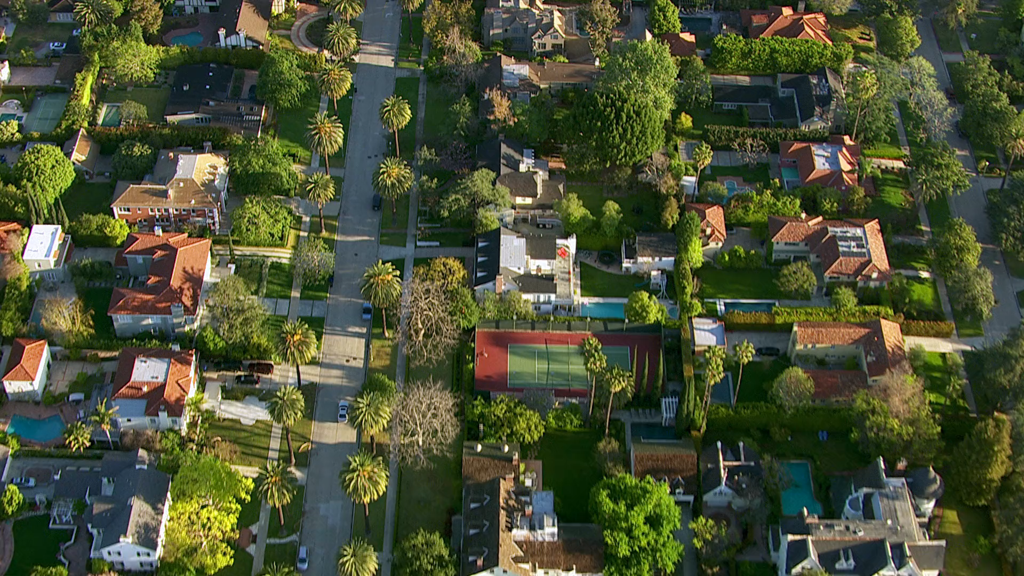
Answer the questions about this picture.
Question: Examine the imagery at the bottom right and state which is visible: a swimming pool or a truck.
swimming pool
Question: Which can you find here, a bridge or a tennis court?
tennis court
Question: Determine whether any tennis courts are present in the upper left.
Yes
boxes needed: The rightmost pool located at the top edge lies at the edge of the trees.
[677,14,715,32]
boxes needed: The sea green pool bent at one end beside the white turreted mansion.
[779,461,824,517]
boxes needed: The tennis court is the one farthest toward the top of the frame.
[20,88,79,136]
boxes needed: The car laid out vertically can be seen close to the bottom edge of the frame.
[297,547,309,571]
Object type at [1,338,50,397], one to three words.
building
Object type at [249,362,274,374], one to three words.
vehicle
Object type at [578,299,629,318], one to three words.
swimming pool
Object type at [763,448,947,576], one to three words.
house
